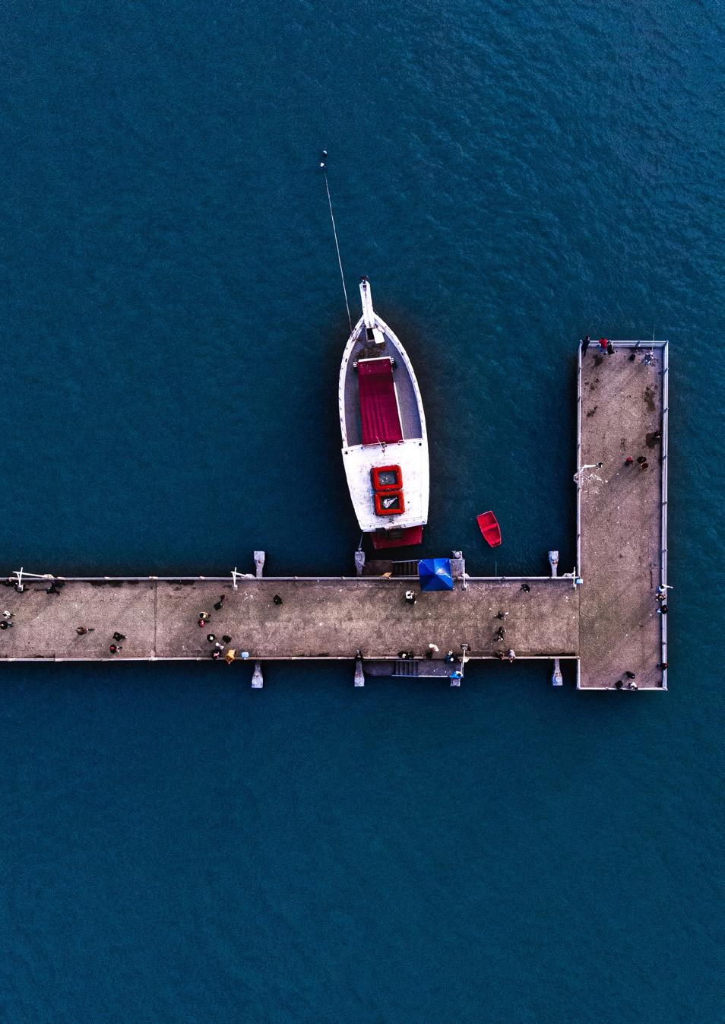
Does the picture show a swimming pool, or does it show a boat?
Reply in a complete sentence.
Of the two, only a boat appears.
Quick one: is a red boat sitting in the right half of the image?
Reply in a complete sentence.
Yes, a red boat can be seen in the right half of the image.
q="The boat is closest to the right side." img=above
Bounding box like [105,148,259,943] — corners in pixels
[477,511,501,547]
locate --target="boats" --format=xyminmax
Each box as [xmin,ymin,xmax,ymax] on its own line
[339,276,429,549]
[477,511,501,547]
